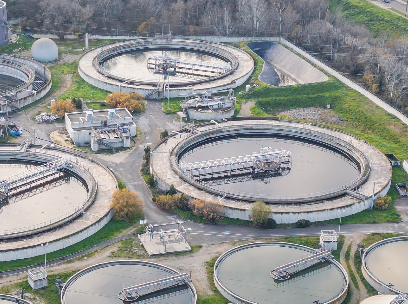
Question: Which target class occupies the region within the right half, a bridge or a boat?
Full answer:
The one visible within the right half is a bridge.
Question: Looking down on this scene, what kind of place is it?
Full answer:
This image shows an industrial area.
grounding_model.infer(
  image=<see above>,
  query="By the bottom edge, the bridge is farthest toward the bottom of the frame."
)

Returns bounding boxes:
[118,270,192,301]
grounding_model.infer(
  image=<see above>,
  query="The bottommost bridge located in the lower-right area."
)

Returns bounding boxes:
[270,248,335,281]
